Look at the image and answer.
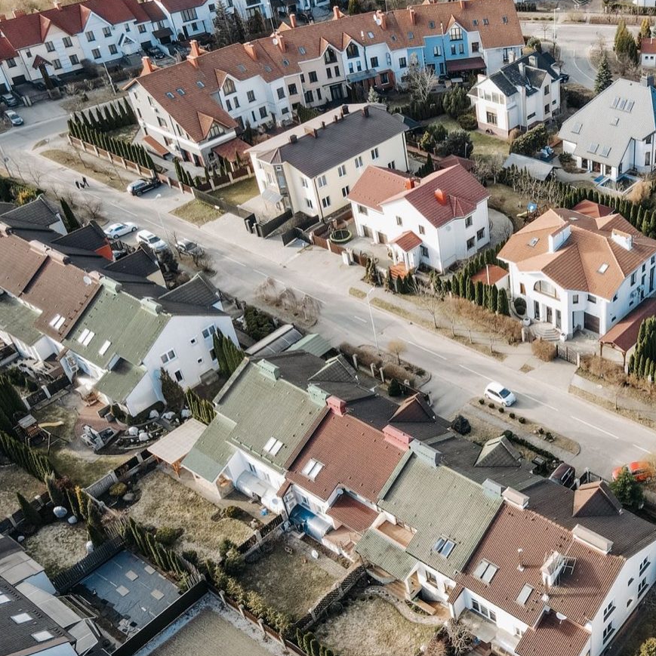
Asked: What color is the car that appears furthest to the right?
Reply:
red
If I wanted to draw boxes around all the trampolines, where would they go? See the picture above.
[329,228,353,242]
